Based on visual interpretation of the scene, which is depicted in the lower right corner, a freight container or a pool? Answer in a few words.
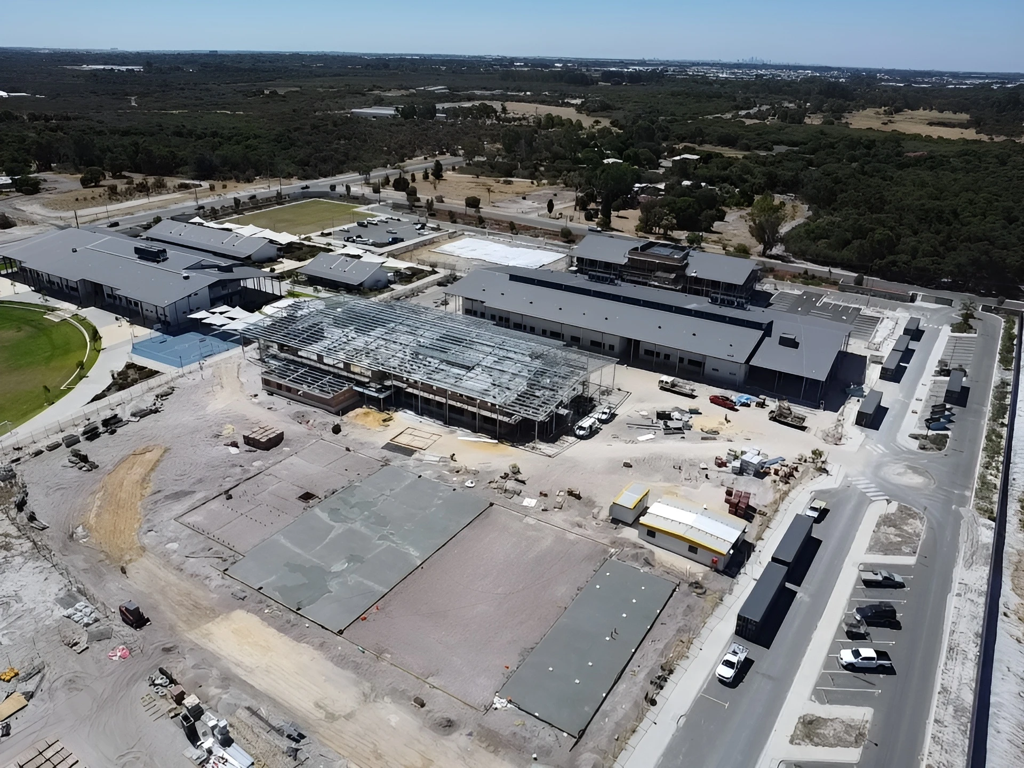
freight container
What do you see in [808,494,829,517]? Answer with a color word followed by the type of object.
white truck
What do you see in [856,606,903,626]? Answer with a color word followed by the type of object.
black car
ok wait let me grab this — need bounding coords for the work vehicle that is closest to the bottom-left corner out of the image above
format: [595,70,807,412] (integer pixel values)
[119,607,148,635]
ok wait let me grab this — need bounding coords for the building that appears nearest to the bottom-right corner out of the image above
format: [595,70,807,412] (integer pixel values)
[637,482,753,568]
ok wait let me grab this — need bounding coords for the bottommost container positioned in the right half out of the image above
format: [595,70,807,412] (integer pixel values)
[735,560,788,640]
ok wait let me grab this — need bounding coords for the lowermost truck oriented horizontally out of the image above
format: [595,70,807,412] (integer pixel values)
[840,650,895,673]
